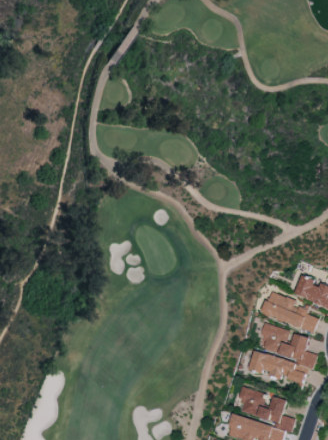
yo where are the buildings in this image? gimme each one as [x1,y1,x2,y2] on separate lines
[298,270,328,302]
[260,290,320,332]
[238,386,297,431]
[248,348,310,387]
[259,322,319,368]
[228,414,286,440]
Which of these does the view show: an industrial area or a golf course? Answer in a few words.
golf course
